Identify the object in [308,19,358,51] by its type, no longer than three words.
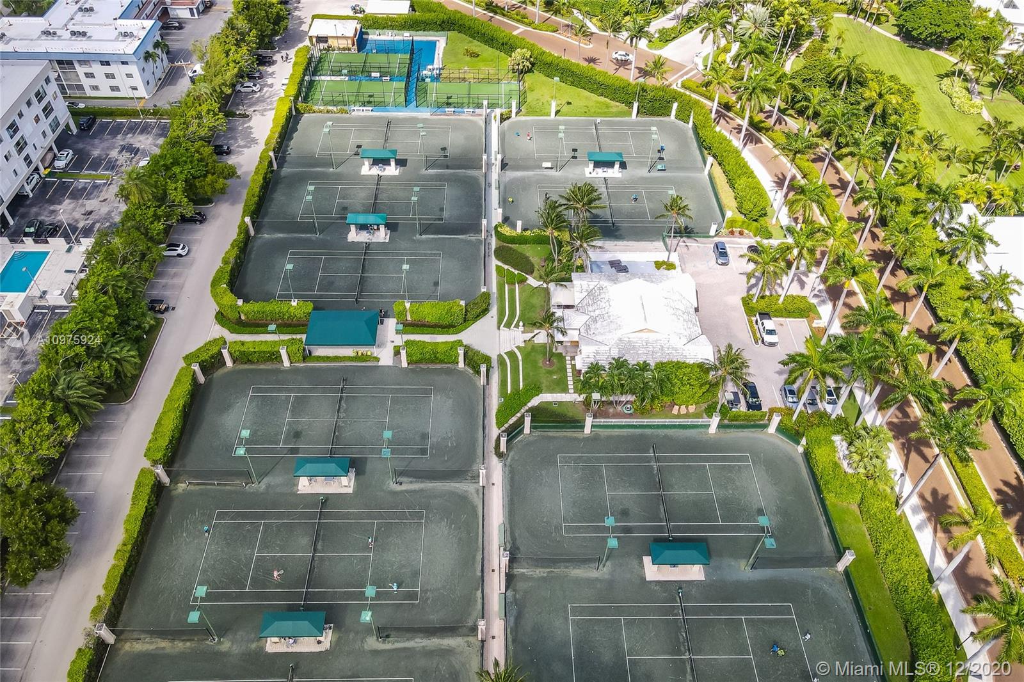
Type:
shed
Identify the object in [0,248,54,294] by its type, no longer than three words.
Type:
swimming pool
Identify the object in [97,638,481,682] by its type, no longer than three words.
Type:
tennis court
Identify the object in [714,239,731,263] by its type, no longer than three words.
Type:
car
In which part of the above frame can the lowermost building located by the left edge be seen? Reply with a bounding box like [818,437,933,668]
[0,293,34,323]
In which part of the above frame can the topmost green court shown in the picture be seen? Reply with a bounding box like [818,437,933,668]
[309,25,410,77]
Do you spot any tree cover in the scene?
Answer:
Yes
